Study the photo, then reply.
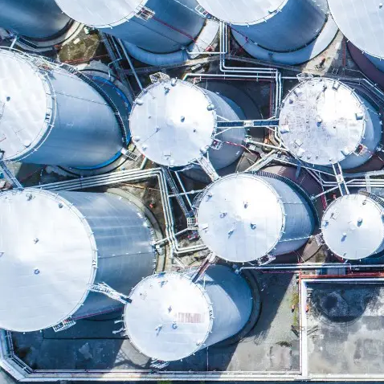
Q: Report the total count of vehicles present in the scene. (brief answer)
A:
0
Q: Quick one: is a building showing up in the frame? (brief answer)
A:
No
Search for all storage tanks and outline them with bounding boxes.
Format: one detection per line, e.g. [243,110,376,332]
[187,0,338,65]
[275,65,384,184]
[121,252,264,373]
[327,0,384,91]
[125,67,264,189]
[0,40,139,178]
[183,163,328,270]
[0,0,76,51]
[0,178,170,339]
[51,0,222,69]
